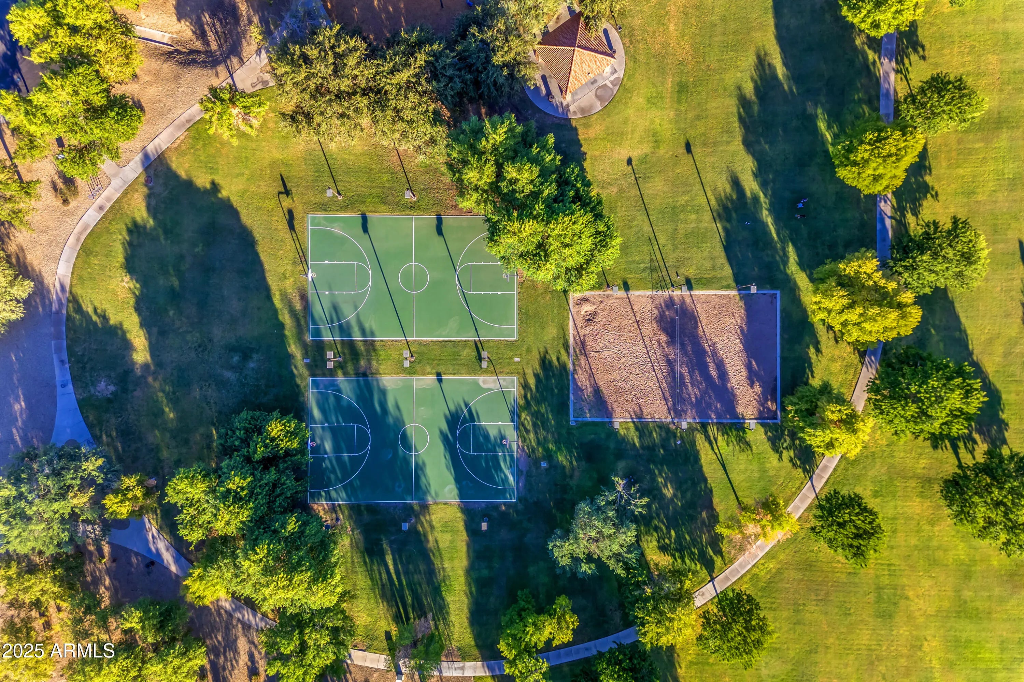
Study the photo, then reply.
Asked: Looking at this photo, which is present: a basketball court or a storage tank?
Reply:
basketball court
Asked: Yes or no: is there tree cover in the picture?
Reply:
Yes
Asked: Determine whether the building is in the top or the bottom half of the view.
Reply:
top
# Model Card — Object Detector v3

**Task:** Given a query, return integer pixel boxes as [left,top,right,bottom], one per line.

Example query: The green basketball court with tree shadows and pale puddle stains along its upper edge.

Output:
[307,376,518,503]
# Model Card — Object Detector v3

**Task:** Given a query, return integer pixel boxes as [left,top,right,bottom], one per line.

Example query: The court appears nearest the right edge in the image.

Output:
[570,291,780,422]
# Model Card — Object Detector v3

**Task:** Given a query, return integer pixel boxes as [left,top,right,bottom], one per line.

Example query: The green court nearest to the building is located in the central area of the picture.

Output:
[308,214,518,340]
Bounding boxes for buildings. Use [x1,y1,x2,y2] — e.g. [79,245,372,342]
[532,17,617,101]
